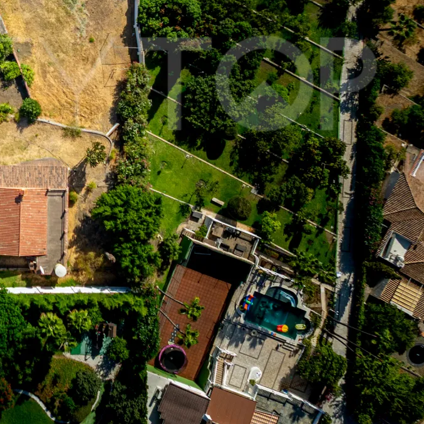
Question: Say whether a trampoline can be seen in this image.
Yes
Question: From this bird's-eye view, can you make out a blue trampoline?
No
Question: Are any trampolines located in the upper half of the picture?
No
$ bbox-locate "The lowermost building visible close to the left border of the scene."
[0,164,68,256]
